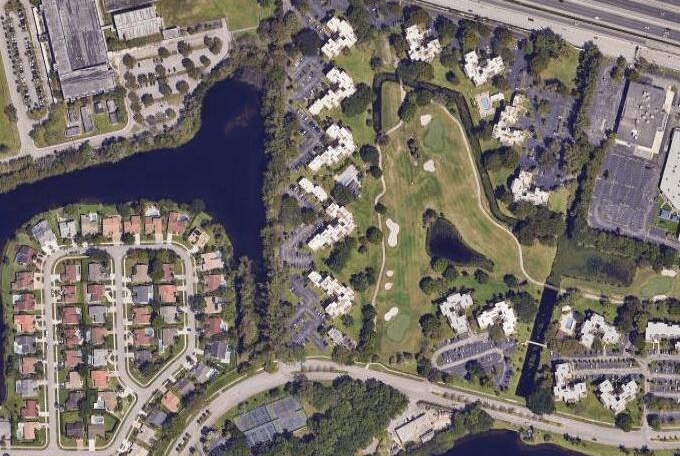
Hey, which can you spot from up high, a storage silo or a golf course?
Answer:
golf course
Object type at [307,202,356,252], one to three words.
building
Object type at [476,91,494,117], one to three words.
swimming pool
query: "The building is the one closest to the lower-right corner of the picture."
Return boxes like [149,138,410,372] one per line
[600,380,639,414]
